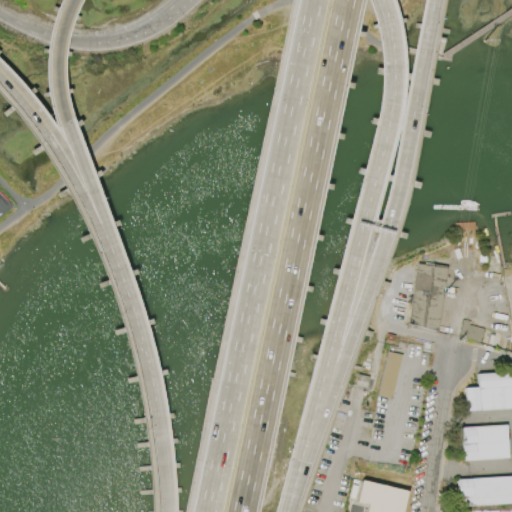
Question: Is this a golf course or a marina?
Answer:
marina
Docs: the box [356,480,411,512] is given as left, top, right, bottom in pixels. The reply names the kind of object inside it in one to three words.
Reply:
building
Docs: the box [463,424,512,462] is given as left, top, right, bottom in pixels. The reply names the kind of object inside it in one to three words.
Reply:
building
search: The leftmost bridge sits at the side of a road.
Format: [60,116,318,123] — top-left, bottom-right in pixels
[0,0,182,512]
